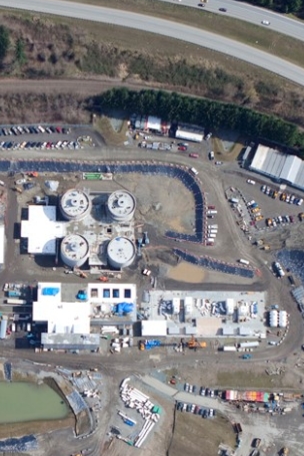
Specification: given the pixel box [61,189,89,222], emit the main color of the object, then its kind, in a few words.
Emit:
white storage tank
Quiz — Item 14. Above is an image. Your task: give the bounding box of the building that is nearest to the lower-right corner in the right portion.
[141,292,266,338]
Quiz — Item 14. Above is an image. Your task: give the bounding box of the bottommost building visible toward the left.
[33,283,136,346]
